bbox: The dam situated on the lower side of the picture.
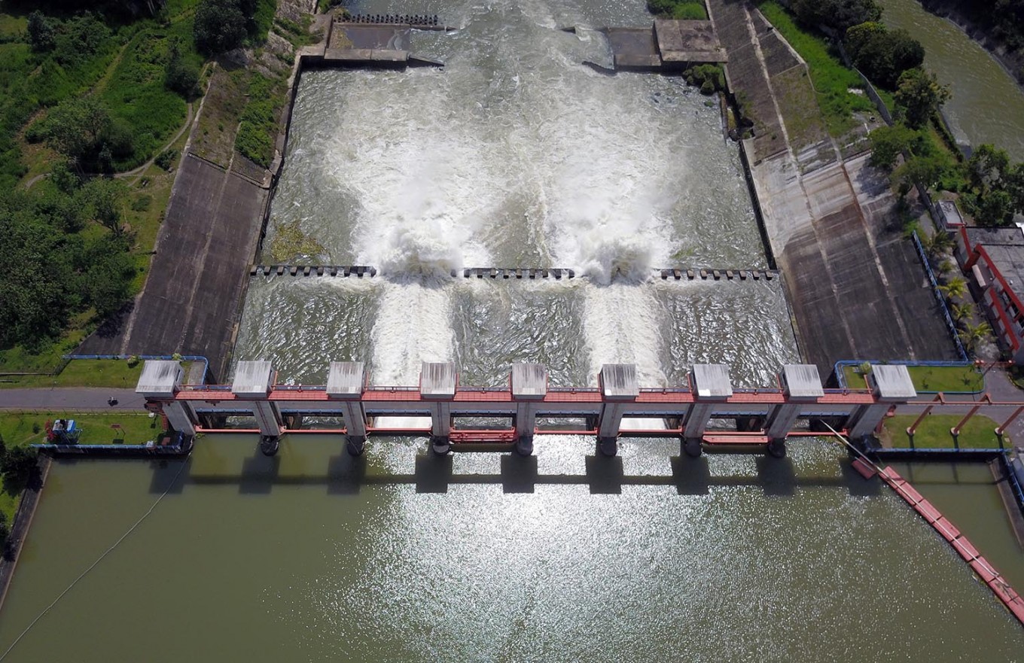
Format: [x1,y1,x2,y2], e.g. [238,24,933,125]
[46,357,992,459]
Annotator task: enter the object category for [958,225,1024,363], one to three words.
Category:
building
